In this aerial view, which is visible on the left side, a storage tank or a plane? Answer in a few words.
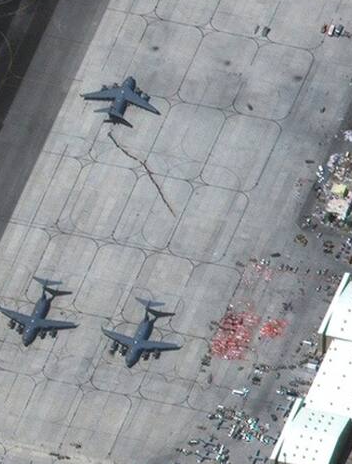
plane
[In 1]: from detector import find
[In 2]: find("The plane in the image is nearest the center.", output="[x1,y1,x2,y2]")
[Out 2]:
[103,295,181,368]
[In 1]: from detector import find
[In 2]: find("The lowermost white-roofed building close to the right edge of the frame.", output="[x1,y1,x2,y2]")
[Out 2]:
[271,401,348,464]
